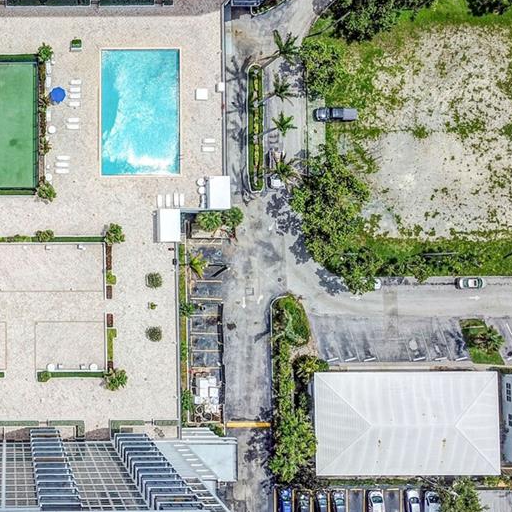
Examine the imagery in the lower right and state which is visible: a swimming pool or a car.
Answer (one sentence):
Looking in the lower right, you will find a car.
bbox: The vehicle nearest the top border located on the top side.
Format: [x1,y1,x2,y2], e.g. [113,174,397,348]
[315,106,357,122]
